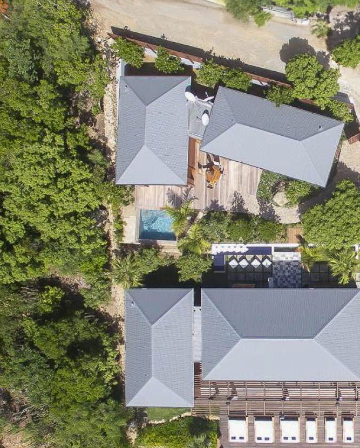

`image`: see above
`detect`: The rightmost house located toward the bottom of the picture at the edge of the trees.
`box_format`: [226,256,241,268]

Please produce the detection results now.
[201,287,360,381]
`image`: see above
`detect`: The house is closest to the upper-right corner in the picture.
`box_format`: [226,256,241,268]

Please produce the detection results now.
[200,86,344,187]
